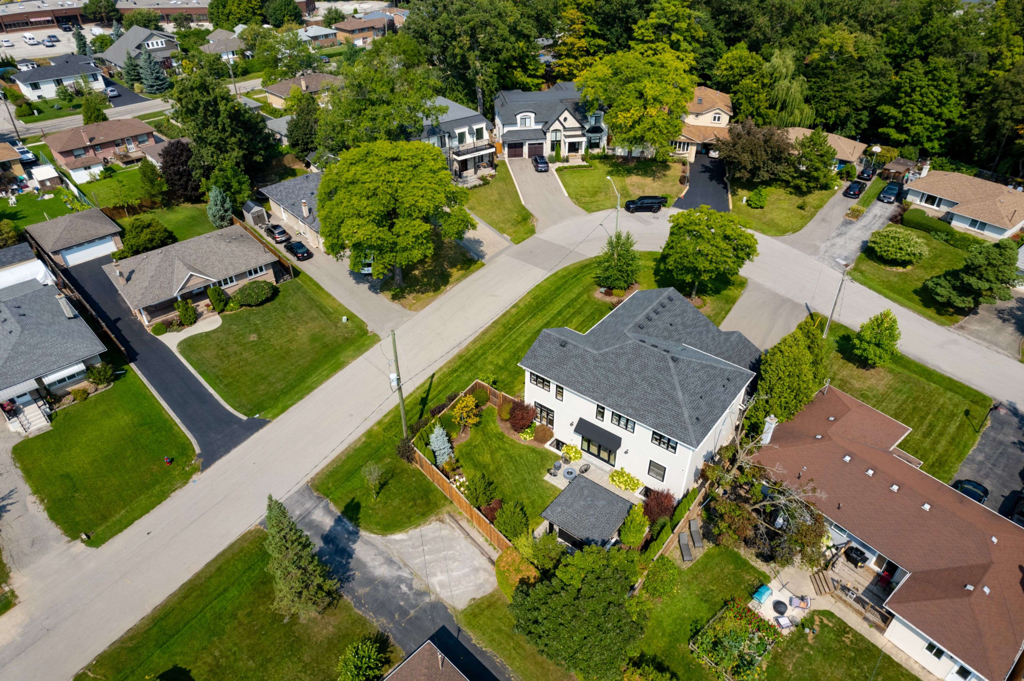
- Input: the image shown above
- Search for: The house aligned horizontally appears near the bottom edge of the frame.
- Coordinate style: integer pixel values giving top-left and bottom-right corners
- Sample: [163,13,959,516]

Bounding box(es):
[383,640,470,681]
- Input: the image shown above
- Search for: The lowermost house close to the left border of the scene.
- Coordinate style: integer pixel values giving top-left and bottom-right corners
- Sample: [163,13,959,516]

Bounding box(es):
[0,287,109,432]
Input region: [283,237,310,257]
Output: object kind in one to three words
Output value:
car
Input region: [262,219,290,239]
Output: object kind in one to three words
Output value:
car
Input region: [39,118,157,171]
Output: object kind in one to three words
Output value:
house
